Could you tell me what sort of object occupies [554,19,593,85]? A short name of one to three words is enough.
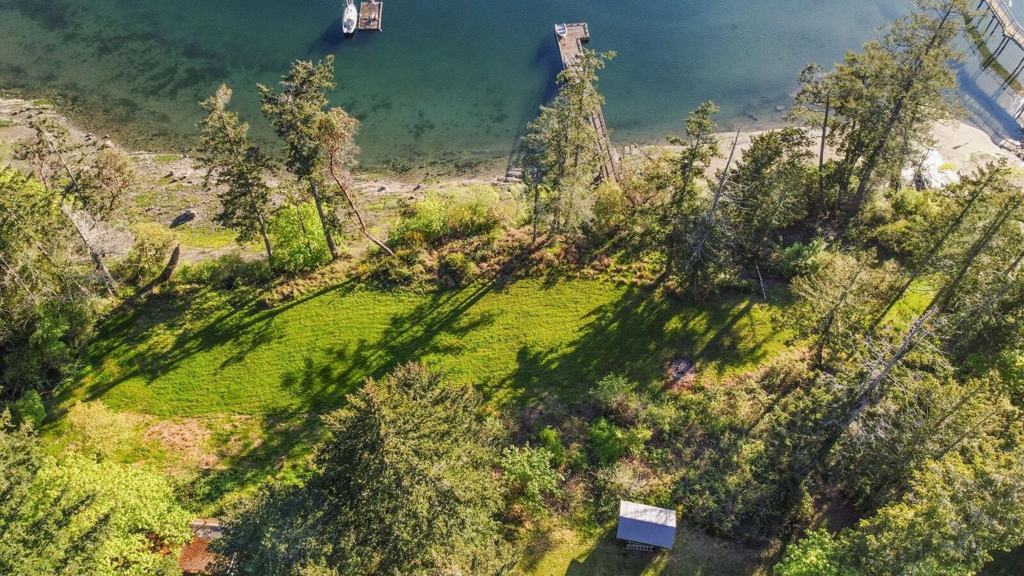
pier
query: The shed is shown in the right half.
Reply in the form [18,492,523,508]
[617,498,675,554]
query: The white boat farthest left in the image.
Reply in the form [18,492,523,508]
[339,0,359,37]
